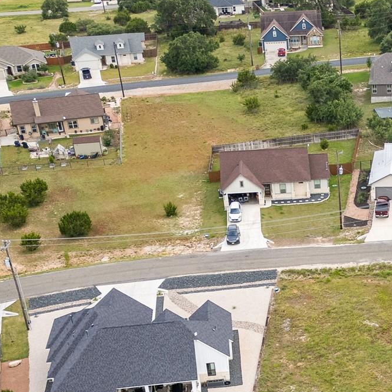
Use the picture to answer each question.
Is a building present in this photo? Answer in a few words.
Yes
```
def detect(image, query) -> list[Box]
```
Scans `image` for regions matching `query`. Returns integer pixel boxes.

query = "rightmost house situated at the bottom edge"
[46,285,236,392]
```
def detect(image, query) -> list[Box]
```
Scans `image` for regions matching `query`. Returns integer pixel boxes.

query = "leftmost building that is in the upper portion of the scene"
[0,43,49,78]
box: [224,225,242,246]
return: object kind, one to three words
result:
car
